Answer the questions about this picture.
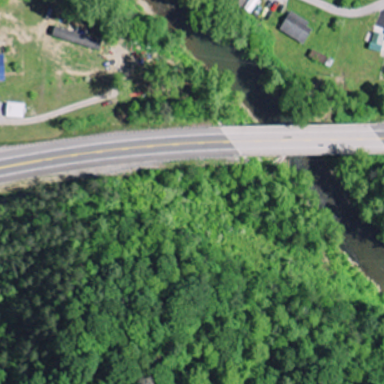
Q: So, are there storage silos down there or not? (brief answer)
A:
No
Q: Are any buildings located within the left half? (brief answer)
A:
Yes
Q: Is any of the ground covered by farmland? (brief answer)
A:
No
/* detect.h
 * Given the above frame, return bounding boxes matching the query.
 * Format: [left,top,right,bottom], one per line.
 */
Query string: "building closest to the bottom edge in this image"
[6,101,28,118]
